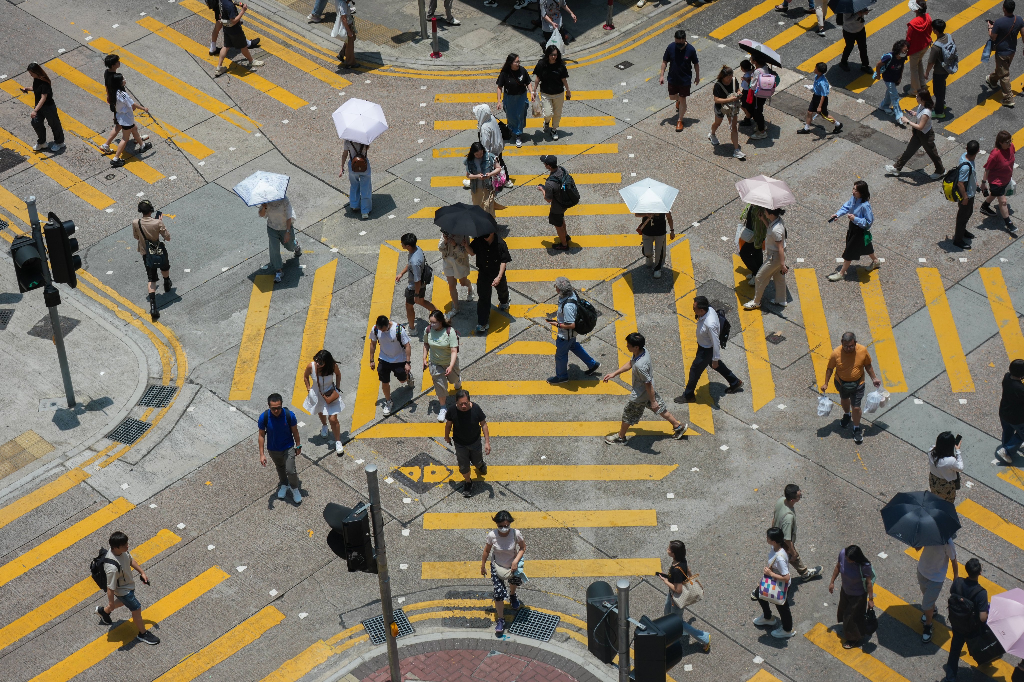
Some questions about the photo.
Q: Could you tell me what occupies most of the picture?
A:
paved ground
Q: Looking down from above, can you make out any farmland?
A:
No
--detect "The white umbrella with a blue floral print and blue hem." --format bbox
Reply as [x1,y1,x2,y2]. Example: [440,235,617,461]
[234,170,294,211]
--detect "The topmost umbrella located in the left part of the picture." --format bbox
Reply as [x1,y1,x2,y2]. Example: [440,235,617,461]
[331,96,390,144]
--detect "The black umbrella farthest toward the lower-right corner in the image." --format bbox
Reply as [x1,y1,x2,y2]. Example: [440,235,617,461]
[879,487,964,562]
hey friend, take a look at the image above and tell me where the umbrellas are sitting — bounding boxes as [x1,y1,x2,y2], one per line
[827,0,878,14]
[331,96,390,144]
[982,587,1024,653]
[879,487,964,562]
[617,177,679,211]
[735,175,797,229]
[433,197,500,253]
[735,48,789,69]
[234,170,294,211]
